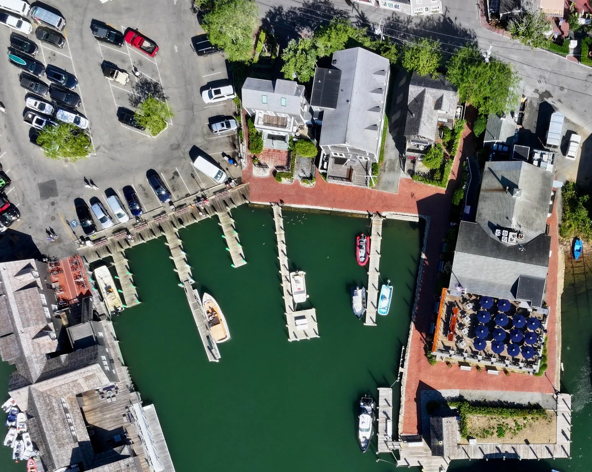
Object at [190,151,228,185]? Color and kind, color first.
white van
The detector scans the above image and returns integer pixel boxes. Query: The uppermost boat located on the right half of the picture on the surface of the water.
[355,231,369,266]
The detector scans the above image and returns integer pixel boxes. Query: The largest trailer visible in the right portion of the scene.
[543,110,566,154]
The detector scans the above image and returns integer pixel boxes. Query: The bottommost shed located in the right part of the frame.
[430,417,458,457]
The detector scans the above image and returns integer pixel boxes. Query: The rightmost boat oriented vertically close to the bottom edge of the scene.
[357,395,375,453]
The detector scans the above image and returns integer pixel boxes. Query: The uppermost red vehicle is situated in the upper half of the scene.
[125,30,160,59]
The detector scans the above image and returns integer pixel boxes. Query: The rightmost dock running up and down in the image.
[363,213,386,327]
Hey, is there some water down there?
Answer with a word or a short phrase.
Yes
